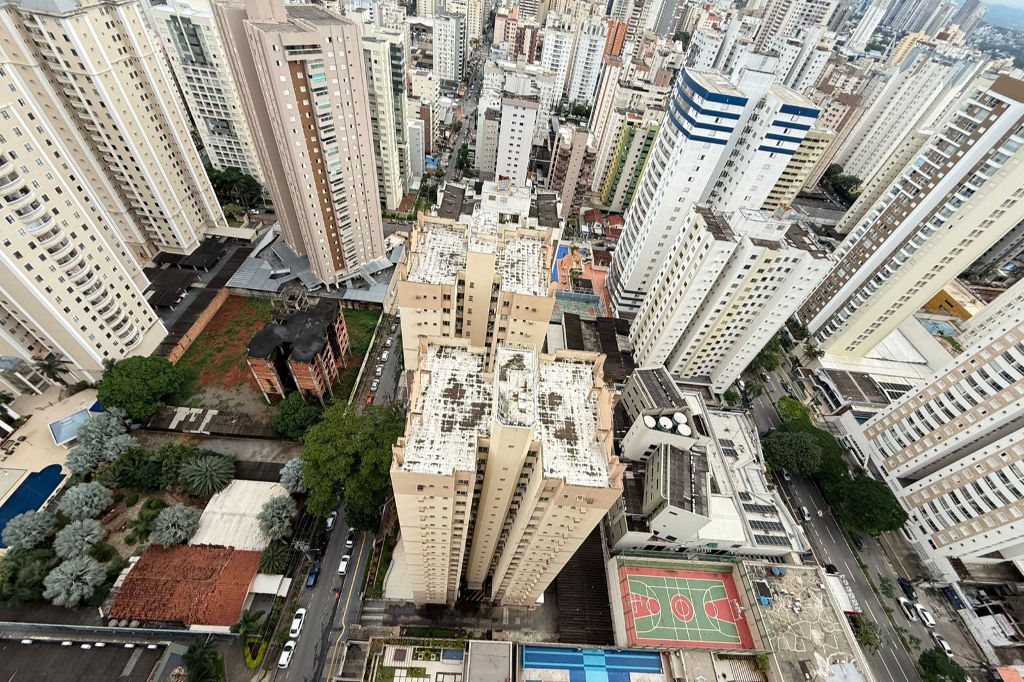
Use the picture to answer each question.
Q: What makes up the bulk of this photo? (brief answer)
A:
buildings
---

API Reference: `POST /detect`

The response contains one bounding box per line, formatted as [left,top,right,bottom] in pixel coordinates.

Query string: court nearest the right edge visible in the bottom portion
[618,561,750,646]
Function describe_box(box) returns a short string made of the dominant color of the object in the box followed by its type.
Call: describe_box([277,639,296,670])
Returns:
white car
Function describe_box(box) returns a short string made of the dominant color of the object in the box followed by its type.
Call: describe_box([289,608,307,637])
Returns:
white car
